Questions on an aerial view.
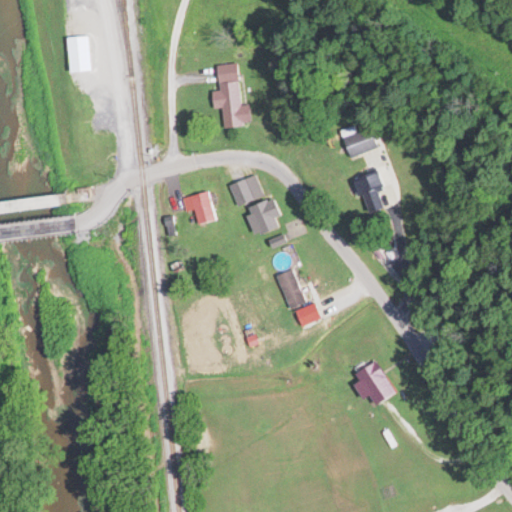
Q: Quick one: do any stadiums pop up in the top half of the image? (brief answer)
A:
No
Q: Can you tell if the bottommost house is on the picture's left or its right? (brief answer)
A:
right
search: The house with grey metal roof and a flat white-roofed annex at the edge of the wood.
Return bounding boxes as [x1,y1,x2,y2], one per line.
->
[340,128,376,157]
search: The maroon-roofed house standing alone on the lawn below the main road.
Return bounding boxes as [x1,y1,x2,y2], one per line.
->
[354,362,395,406]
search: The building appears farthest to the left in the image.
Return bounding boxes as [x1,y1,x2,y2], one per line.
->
[68,35,92,72]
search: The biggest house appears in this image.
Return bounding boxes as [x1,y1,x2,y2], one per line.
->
[212,62,252,128]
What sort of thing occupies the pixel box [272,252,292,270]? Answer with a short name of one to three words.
swimming pool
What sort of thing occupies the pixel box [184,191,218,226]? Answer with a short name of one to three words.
house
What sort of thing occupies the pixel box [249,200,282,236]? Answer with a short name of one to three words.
house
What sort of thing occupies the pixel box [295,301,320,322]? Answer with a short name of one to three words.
building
